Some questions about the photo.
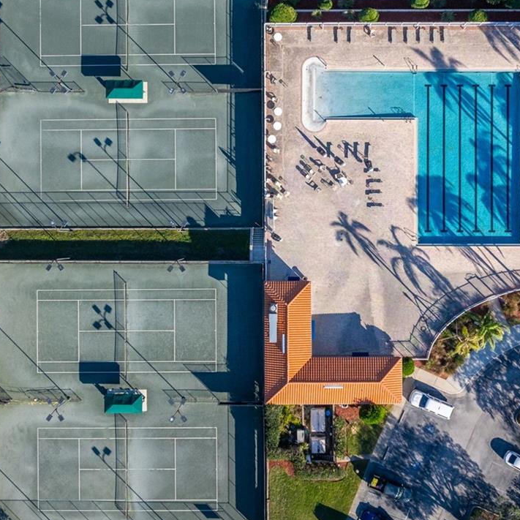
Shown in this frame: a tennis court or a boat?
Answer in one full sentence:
The one in the frame is a tennis court.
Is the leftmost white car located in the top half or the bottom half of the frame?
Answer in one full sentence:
The bottom half of the photo is where the leftmost white car is.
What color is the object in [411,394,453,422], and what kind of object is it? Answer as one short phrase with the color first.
white car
